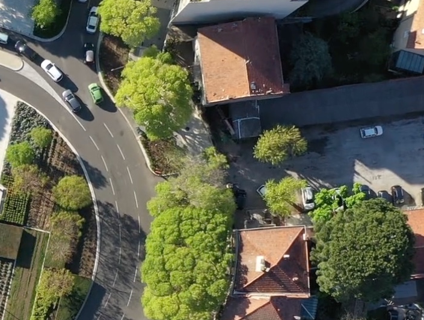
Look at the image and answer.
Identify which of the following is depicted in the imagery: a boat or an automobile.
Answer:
automobile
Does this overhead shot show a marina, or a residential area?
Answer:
residential area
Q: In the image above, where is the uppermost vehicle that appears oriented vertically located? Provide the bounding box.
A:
[85,7,99,32]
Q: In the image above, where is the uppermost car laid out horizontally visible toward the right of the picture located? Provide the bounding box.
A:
[357,124,383,137]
